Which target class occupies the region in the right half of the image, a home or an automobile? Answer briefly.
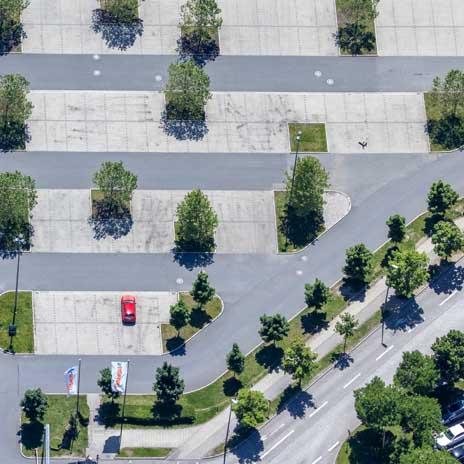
automobile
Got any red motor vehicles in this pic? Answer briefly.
Yes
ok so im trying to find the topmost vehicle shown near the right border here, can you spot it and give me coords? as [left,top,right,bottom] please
[438,403,464,430]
